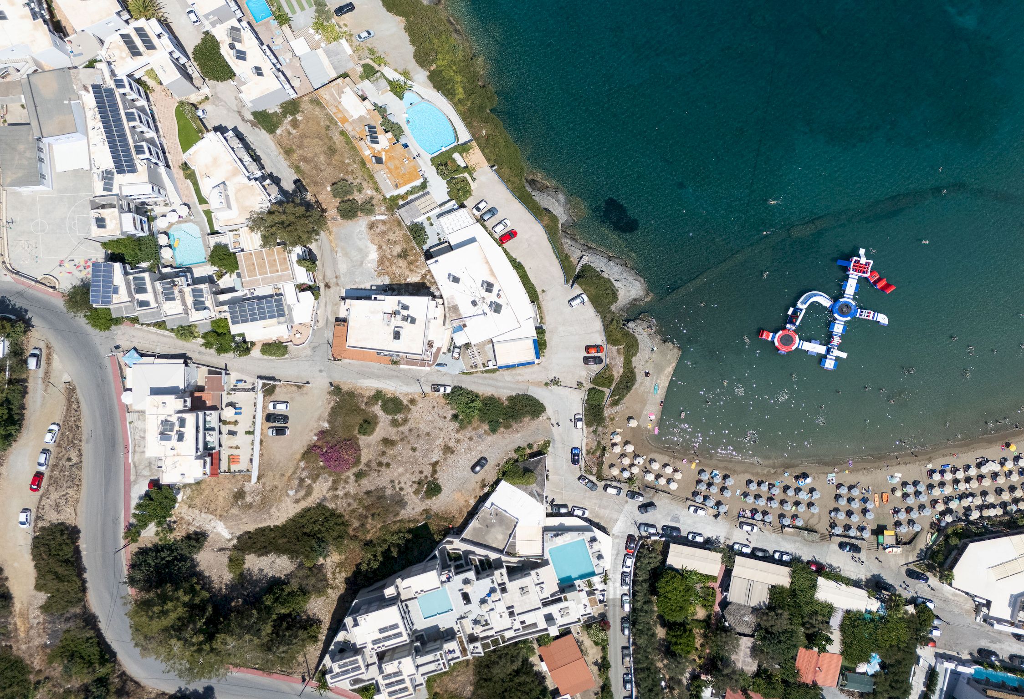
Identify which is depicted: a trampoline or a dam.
trampoline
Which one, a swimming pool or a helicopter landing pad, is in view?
swimming pool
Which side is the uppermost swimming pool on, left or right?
left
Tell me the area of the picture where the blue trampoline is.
right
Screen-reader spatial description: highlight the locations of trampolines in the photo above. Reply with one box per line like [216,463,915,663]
[832,297,857,322]
[774,328,799,353]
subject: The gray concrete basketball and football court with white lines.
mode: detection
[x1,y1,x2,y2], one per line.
[7,169,106,287]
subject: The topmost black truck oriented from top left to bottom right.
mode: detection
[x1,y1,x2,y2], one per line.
[289,174,310,196]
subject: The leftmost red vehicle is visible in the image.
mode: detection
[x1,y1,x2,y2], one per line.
[30,471,45,492]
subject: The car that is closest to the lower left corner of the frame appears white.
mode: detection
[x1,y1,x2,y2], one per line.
[19,506,33,529]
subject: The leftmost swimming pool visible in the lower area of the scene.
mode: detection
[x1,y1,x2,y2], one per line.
[415,584,456,621]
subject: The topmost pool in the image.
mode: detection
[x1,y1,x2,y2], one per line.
[246,0,275,25]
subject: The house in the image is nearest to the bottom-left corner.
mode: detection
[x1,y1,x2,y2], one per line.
[146,375,231,483]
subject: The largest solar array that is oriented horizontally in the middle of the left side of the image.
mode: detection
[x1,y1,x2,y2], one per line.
[229,297,285,324]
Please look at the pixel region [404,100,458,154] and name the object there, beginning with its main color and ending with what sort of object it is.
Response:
blue swimming pool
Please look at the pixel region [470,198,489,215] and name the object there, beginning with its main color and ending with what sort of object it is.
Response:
white car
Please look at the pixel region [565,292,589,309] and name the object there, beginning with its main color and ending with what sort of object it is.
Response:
white vehicle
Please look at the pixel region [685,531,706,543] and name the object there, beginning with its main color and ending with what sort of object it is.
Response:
white vehicle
